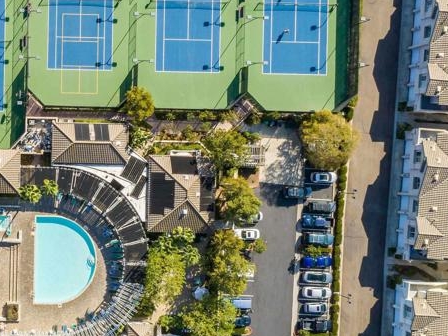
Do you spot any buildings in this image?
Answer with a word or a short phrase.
Yes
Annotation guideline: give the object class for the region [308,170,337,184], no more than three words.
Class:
car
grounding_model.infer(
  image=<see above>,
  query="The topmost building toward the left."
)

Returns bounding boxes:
[51,121,129,165]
